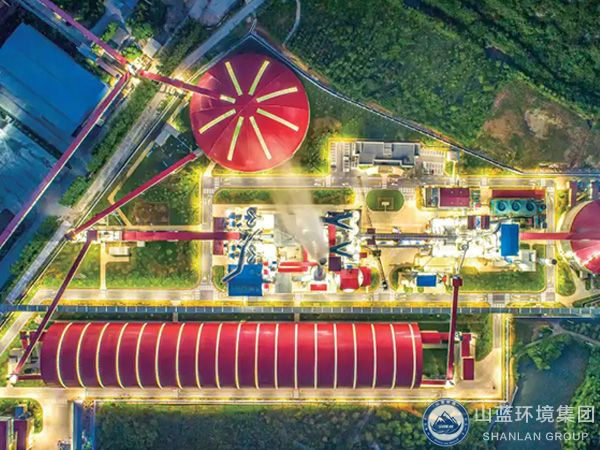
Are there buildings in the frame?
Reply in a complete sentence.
Yes, there is a building in the image.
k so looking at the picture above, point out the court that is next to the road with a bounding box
[366,186,404,212]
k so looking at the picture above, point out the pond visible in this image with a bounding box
[492,335,591,450]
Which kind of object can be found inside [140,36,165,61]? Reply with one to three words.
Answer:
house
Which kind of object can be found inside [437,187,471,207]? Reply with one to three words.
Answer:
building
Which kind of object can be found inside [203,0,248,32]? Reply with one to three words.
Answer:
building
